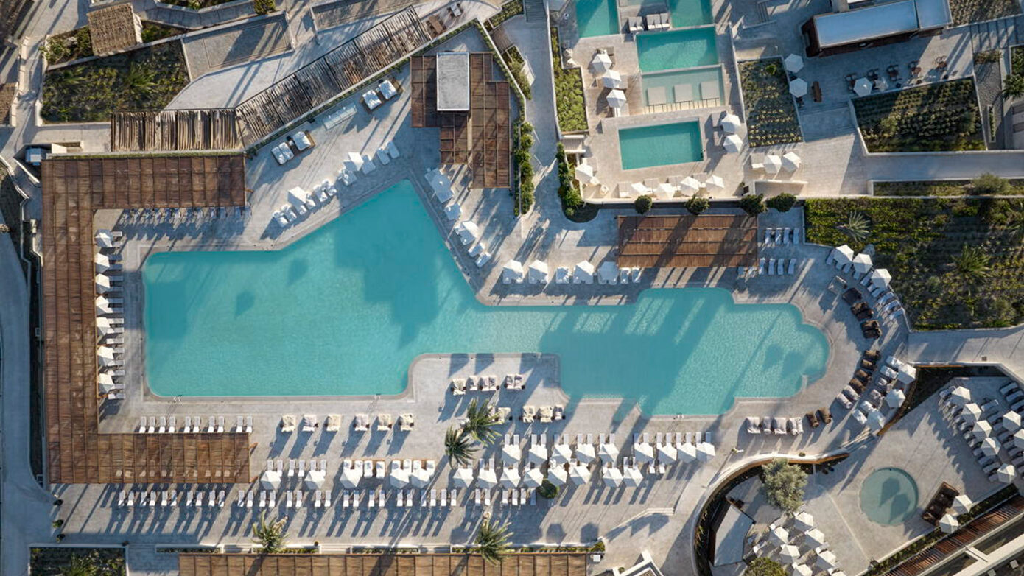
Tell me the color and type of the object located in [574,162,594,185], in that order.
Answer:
white umbrella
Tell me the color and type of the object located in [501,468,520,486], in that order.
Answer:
white umbrella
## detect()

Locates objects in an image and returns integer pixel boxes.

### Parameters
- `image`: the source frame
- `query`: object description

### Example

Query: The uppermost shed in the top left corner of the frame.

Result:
[86,1,145,59]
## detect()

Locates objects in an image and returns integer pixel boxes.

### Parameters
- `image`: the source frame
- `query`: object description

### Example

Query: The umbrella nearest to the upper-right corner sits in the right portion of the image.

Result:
[851,78,871,97]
